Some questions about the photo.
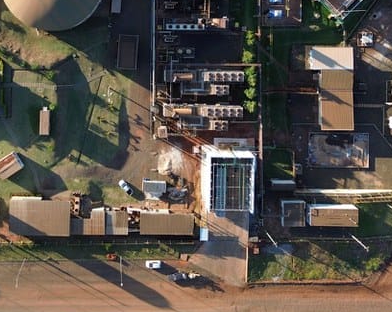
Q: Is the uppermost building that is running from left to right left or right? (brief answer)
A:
right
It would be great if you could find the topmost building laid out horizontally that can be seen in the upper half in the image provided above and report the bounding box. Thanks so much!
[305,46,355,70]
